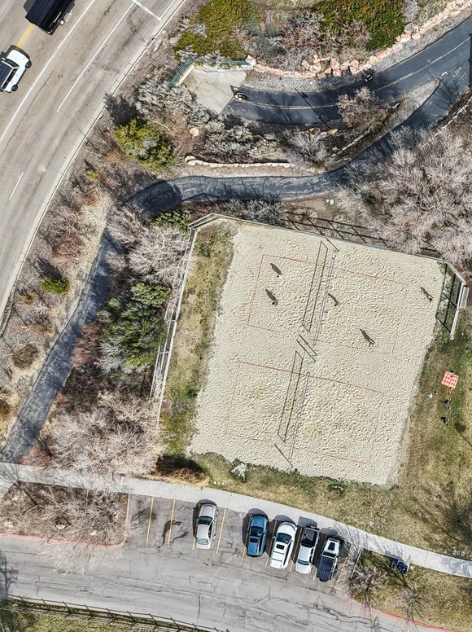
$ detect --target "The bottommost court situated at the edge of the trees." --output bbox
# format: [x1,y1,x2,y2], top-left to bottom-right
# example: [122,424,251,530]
[189,336,419,485]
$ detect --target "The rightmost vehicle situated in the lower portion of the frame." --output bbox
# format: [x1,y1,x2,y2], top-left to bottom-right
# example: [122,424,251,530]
[311,538,342,588]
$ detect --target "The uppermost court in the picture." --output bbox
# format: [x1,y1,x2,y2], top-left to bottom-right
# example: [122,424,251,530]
[212,227,446,384]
